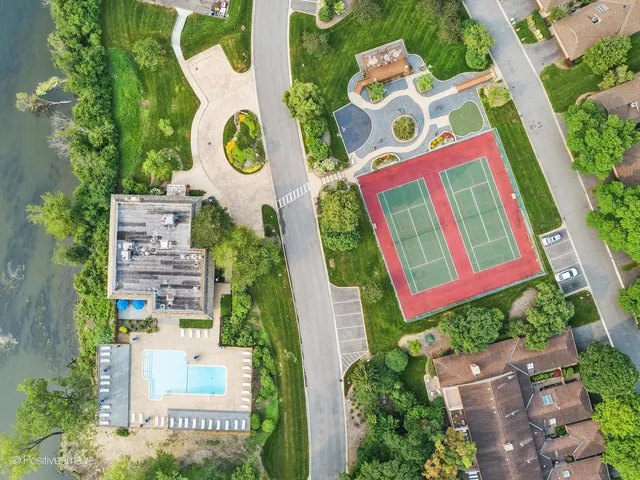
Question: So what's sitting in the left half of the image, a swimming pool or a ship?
swimming pool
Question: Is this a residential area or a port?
residential area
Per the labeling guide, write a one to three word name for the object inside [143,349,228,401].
swimming pool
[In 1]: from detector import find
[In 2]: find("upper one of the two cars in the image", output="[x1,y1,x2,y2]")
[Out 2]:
[539,234,562,246]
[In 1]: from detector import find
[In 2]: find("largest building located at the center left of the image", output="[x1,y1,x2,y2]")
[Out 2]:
[109,184,214,320]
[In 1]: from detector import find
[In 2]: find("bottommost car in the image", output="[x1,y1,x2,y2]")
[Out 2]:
[554,268,578,281]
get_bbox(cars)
[539,234,562,246]
[554,268,578,281]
